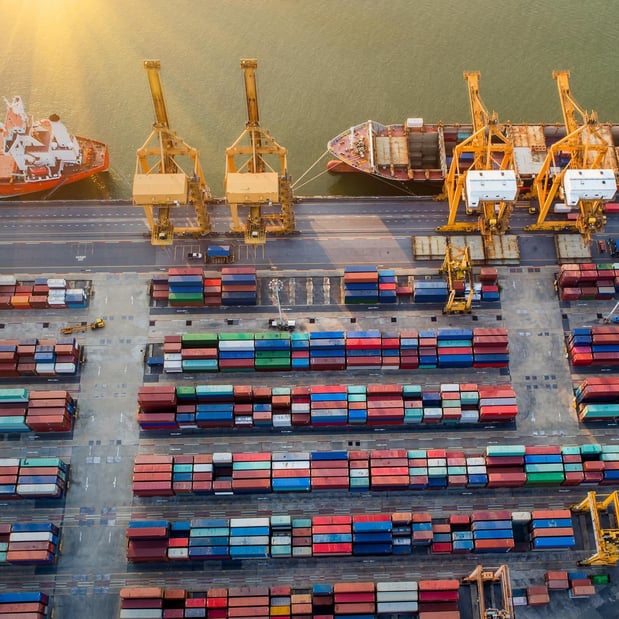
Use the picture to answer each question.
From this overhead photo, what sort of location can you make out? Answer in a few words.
port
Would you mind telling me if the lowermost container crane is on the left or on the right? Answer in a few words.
right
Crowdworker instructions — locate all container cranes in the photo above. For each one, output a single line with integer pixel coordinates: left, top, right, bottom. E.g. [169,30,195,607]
[434,245,482,316]
[458,564,514,619]
[223,55,300,245]
[135,56,218,247]
[436,63,526,253]
[565,492,619,568]
[525,62,619,251]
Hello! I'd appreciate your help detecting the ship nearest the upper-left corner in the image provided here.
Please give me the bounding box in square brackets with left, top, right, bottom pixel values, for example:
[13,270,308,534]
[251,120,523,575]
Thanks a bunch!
[0,95,112,199]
